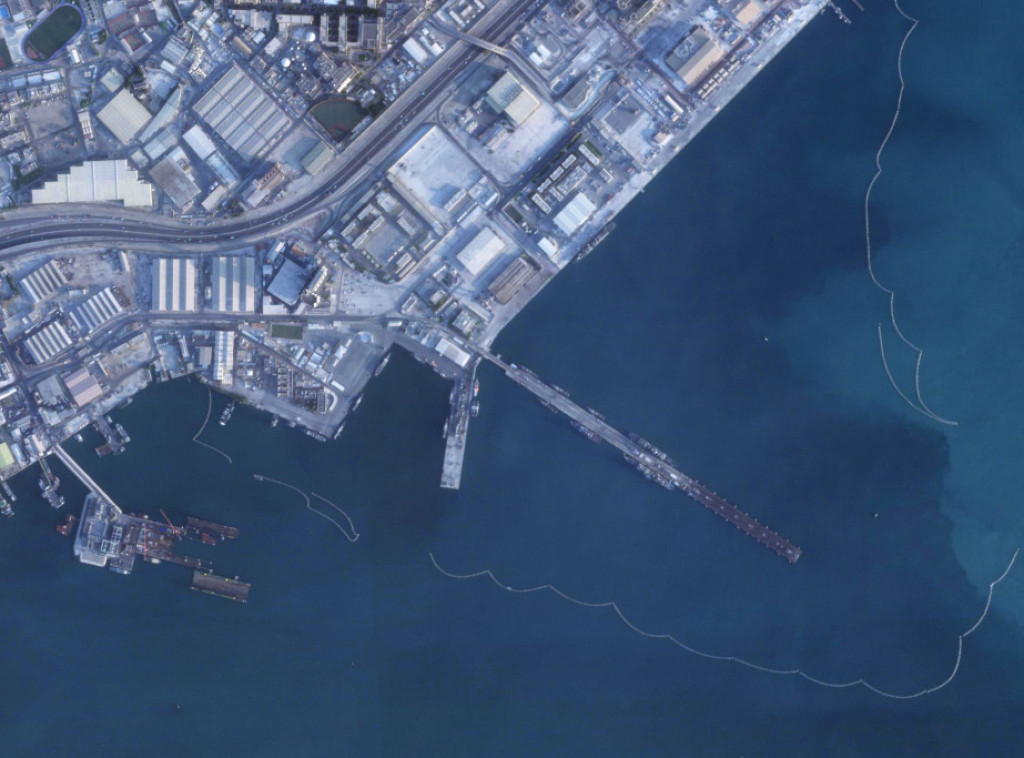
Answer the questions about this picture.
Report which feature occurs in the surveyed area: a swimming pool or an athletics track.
athletics track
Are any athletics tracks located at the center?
No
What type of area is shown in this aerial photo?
port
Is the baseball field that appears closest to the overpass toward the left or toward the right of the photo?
left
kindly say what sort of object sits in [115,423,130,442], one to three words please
boat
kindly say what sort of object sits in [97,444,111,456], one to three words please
ship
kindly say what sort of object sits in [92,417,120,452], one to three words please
pier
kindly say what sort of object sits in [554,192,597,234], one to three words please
building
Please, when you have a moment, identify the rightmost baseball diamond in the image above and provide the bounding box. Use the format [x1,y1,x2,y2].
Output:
[308,98,370,142]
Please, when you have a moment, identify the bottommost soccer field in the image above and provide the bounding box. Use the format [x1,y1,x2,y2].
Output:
[270,321,304,340]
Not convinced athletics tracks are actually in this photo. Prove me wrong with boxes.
[21,1,86,65]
